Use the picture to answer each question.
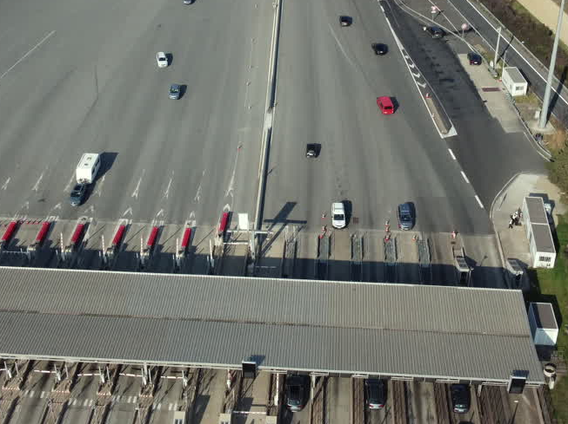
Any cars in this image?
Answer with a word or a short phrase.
Yes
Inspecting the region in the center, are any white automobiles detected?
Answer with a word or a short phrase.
Yes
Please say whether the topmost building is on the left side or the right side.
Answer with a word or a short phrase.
right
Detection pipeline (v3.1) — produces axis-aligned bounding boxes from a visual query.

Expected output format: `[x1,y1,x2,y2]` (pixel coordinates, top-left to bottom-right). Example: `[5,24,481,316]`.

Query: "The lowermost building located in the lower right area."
[526,295,558,342]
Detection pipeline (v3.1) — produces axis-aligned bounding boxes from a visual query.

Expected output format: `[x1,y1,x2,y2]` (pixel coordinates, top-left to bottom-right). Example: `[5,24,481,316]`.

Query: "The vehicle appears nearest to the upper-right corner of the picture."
[467,53,481,66]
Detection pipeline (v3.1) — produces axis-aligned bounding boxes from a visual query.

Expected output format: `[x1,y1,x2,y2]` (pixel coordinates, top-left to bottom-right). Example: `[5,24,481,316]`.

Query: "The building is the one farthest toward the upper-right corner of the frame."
[502,64,528,94]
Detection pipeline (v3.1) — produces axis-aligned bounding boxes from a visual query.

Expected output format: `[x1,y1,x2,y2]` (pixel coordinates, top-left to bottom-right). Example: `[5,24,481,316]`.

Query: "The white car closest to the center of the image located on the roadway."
[330,204,346,228]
